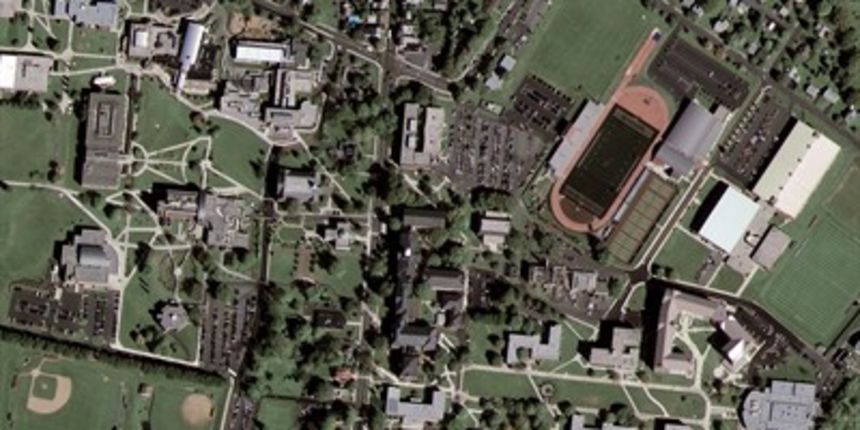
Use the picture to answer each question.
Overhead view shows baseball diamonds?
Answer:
Yes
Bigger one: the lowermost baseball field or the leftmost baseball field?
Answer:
the leftmost baseball field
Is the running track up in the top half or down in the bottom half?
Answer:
top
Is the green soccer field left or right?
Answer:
right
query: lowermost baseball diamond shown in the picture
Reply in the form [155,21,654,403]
[182,394,212,423]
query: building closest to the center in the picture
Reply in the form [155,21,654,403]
[403,207,447,229]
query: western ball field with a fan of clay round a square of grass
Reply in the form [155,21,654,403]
[20,358,71,413]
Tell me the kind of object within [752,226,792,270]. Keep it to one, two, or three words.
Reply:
building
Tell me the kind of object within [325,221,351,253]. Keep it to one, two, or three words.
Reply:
house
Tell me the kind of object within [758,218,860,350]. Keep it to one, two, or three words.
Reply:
soccer field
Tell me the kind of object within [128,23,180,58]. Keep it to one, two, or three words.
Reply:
building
